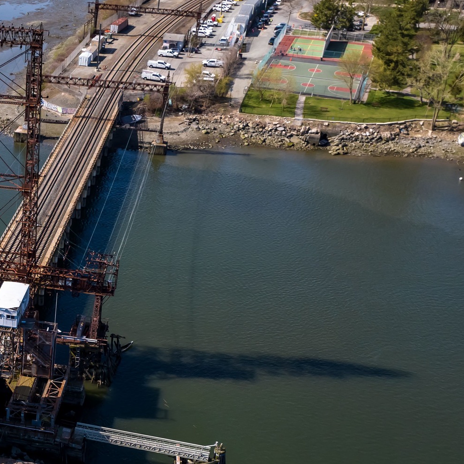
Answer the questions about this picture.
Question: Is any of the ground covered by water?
Yes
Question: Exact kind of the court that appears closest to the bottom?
basketball court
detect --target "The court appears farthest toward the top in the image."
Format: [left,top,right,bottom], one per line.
[274,35,374,63]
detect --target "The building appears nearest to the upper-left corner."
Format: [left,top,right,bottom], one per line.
[162,25,189,47]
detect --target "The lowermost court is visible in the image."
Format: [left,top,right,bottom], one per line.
[251,50,371,102]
